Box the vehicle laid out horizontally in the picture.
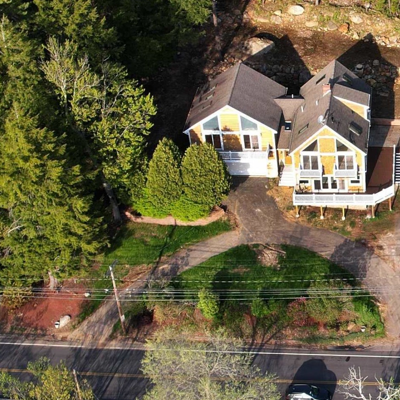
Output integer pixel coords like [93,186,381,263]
[284,380,332,400]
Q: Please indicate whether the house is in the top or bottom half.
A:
top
